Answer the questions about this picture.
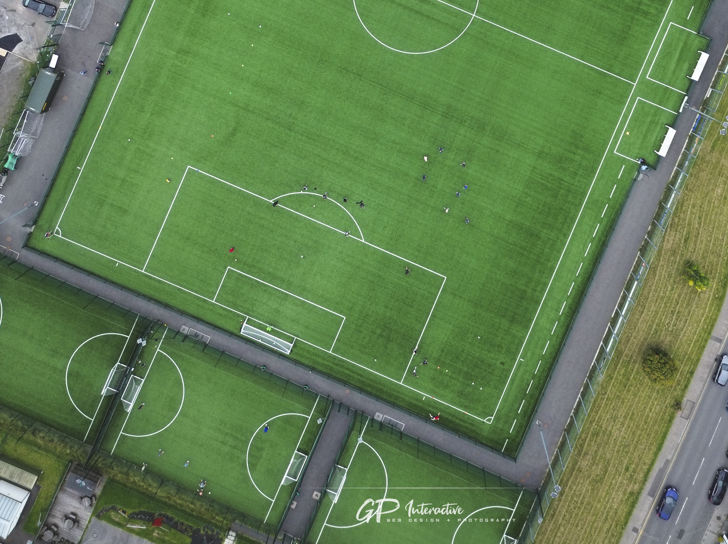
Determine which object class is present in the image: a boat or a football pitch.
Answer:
football pitch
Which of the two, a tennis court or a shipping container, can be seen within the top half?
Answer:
shipping container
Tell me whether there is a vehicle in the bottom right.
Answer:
Yes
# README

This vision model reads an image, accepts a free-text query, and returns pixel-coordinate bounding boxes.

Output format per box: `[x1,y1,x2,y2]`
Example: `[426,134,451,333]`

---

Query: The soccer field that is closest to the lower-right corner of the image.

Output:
[304,419,533,544]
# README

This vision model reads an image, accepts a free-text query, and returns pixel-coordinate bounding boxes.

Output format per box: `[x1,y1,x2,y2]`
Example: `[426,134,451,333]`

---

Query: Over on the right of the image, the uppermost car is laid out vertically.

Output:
[713,353,728,387]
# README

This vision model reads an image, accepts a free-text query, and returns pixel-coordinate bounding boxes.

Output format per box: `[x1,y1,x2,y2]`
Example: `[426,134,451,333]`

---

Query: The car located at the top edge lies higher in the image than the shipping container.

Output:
[22,0,57,17]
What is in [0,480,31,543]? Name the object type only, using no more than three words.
building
